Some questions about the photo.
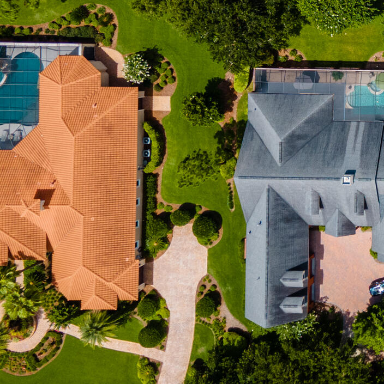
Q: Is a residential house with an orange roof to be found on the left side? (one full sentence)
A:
Yes, looking on the left side, one can make out a residential house with an orange roof.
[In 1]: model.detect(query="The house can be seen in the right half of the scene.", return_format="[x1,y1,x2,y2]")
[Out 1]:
[233,92,384,327]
